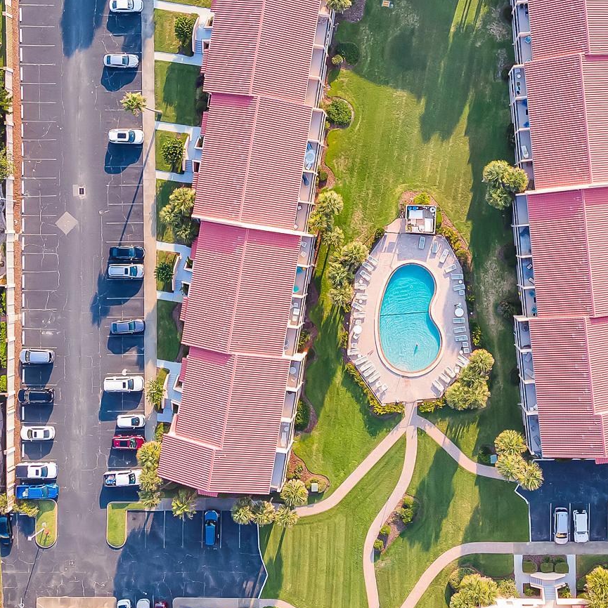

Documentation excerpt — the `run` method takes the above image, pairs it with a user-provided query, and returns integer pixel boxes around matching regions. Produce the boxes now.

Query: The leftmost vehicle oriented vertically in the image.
[0,510,16,545]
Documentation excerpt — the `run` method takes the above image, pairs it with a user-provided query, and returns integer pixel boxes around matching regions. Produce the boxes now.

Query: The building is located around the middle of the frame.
[158,0,342,497]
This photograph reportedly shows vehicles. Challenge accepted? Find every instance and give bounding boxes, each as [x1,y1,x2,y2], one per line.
[22,348,57,364]
[103,470,141,487]
[19,483,60,500]
[109,0,145,14]
[111,319,146,335]
[139,596,153,608]
[552,505,569,542]
[110,245,146,261]
[204,508,220,545]
[18,463,59,479]
[110,127,145,143]
[104,52,141,68]
[572,506,589,540]
[0,510,16,545]
[22,424,59,440]
[21,388,56,404]
[117,414,148,429]
[104,375,144,392]
[108,262,146,279]
[118,596,134,608]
